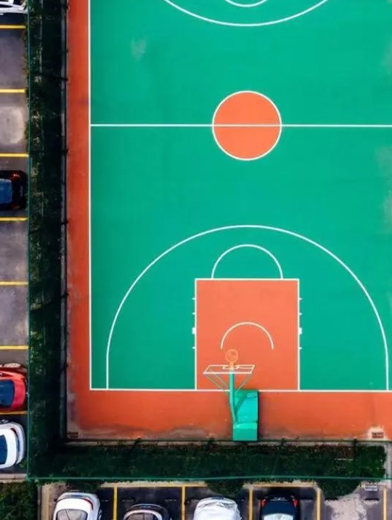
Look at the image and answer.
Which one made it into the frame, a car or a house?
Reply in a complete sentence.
Visible in the photo is a car.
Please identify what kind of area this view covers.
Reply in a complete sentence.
This image shows a sports ground.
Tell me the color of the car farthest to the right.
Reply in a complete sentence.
The car farthest to the right looks black in the image.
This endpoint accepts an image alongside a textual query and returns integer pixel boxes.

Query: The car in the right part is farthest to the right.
[258,481,301,520]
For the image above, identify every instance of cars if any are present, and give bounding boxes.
[0,358,33,408]
[0,416,30,467]
[50,480,102,520]
[0,168,31,211]
[196,484,244,520]
[258,481,301,520]
[121,496,168,520]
